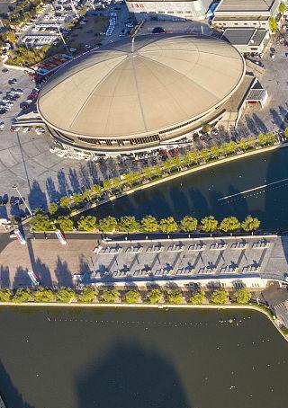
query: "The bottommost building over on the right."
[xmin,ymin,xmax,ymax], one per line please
[248,75,269,105]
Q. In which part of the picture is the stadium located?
top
